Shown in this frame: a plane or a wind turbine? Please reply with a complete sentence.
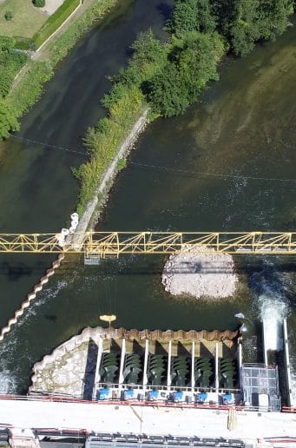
There is a wind turbine in the scene.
